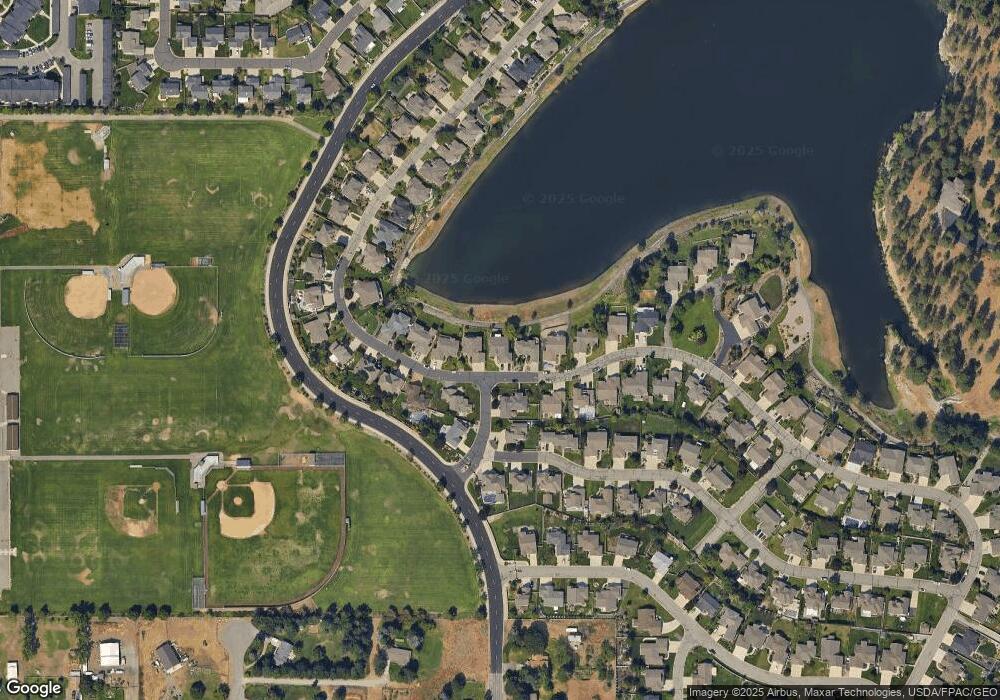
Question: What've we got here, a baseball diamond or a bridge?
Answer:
baseball diamond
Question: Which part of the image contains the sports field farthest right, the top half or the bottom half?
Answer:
bottom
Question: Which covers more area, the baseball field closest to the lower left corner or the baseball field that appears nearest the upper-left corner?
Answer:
the baseball field closest to the lower left corner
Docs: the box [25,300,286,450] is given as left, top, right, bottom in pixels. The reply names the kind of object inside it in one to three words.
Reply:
sports field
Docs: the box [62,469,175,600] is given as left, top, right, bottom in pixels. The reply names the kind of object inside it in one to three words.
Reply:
baseball field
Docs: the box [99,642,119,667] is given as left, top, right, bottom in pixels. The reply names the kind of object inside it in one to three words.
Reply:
barn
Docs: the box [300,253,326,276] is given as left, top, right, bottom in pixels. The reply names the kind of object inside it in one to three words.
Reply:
house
